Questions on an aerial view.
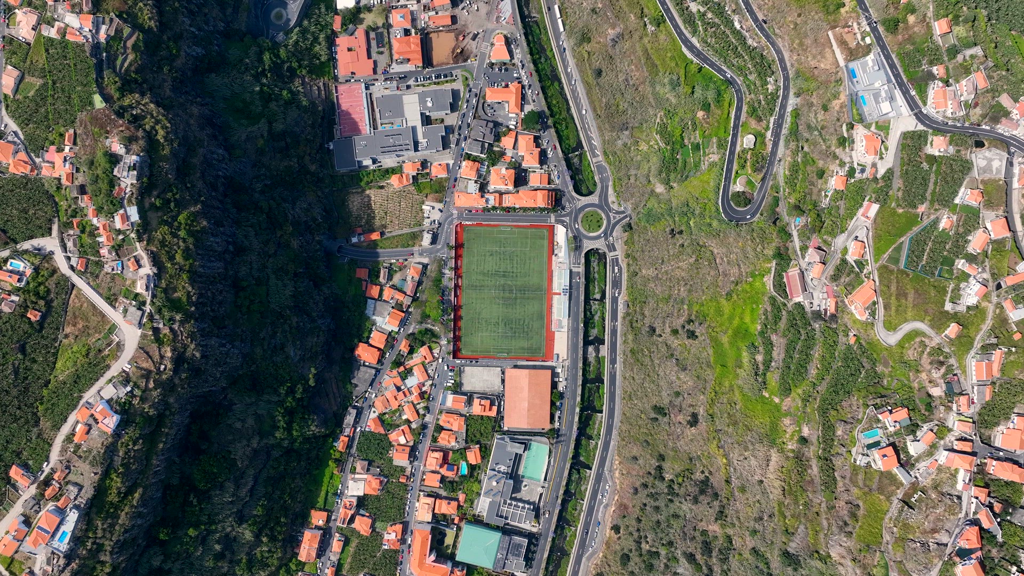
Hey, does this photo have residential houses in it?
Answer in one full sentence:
Yes, a residential house appears in the view.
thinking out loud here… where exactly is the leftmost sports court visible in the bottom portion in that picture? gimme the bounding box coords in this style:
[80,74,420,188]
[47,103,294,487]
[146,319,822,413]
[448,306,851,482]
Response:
[460,367,501,391]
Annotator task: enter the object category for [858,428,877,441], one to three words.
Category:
swimming pool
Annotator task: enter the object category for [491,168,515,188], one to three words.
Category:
house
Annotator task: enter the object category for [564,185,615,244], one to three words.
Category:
roundabout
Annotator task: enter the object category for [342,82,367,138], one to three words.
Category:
basketball court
